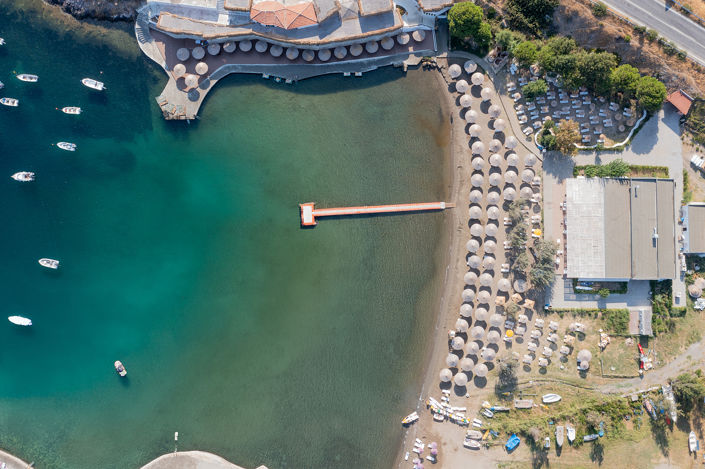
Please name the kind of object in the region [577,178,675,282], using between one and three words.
building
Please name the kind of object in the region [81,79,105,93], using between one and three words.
boat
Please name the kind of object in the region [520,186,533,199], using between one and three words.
umbrella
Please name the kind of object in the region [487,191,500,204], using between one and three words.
umbrella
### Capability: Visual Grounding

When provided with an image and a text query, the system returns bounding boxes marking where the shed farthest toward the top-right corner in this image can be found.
[664,87,696,114]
